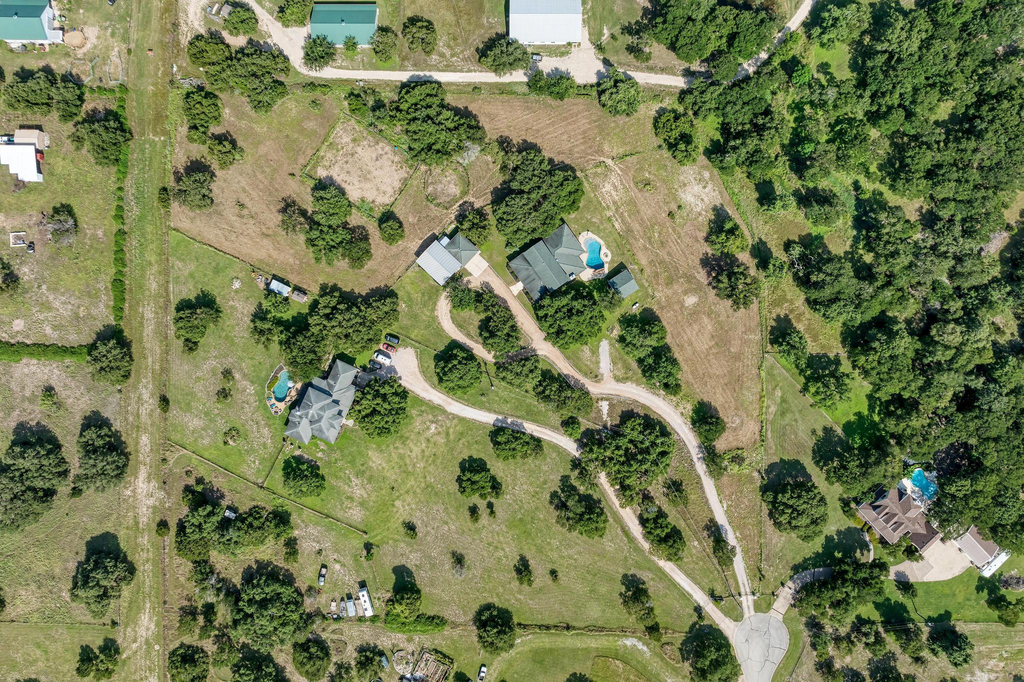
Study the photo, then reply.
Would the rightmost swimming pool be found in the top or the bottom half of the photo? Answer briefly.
bottom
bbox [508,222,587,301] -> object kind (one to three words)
house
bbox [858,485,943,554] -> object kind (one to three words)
house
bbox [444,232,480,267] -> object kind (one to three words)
building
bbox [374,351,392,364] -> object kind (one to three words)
vehicle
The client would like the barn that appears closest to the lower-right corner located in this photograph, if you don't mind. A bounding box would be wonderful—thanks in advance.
[951,523,999,567]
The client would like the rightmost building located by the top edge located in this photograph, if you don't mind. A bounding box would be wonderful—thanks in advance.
[509,0,582,46]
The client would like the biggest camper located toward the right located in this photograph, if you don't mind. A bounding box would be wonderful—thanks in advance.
[977,546,1011,578]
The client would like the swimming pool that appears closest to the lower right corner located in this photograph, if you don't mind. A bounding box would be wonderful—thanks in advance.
[901,463,943,510]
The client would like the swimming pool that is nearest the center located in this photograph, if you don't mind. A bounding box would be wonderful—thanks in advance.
[579,231,611,281]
